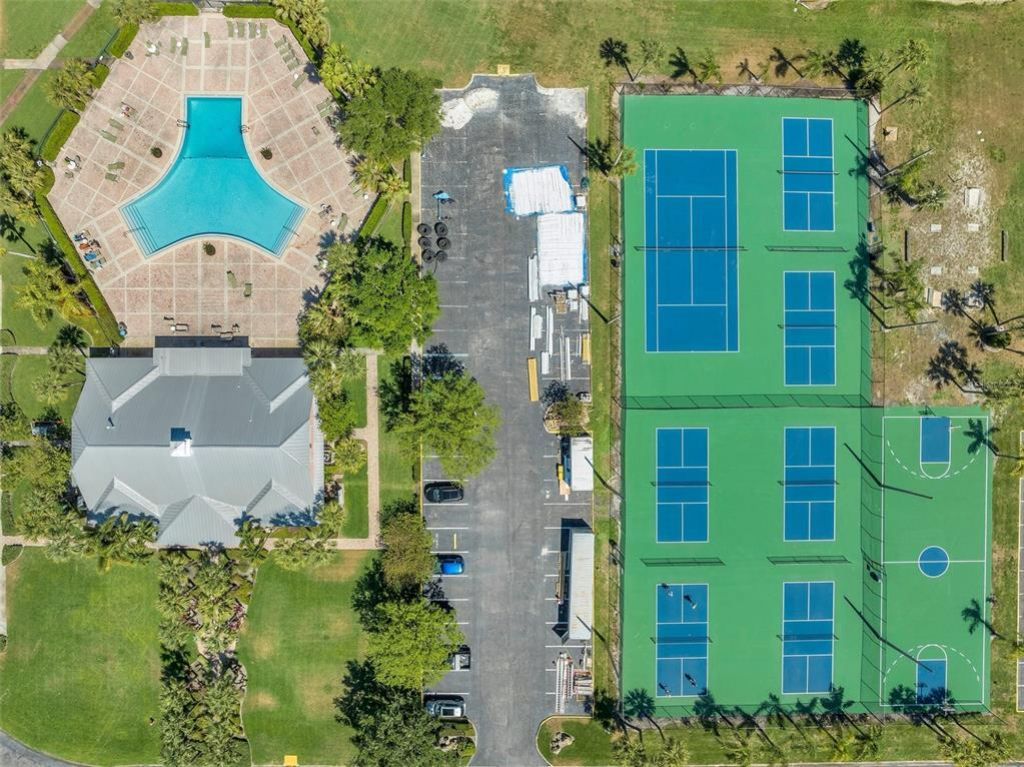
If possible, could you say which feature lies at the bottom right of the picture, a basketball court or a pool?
basketball court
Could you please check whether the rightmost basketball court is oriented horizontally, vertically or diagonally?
vertically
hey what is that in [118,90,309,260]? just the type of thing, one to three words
swimming pool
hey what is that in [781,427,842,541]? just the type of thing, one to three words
sports court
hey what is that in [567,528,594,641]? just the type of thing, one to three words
trailer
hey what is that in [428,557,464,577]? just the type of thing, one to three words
car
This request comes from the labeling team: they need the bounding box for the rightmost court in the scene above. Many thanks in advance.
[880,417,988,705]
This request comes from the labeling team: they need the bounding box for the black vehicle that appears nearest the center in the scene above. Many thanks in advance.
[423,484,463,503]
